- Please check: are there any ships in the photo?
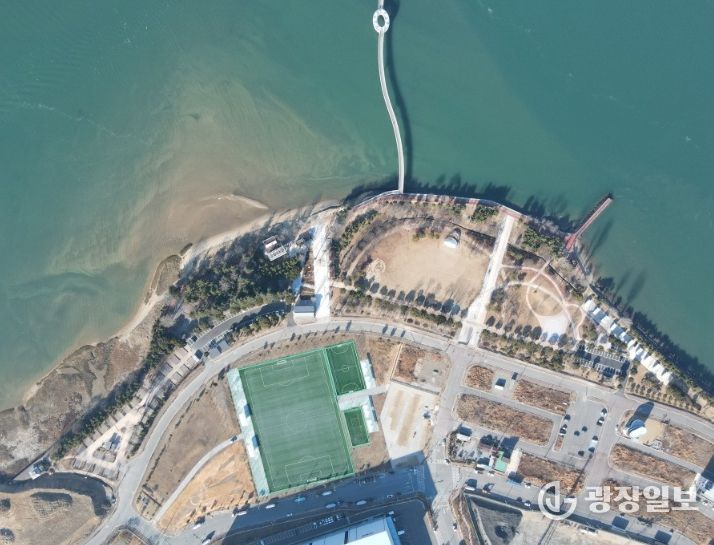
No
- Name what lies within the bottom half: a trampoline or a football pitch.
football pitch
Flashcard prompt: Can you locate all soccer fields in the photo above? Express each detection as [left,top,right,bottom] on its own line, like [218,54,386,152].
[344,408,368,445]
[238,348,354,493]
[326,340,365,394]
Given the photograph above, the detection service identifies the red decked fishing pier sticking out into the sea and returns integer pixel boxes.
[563,195,615,250]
